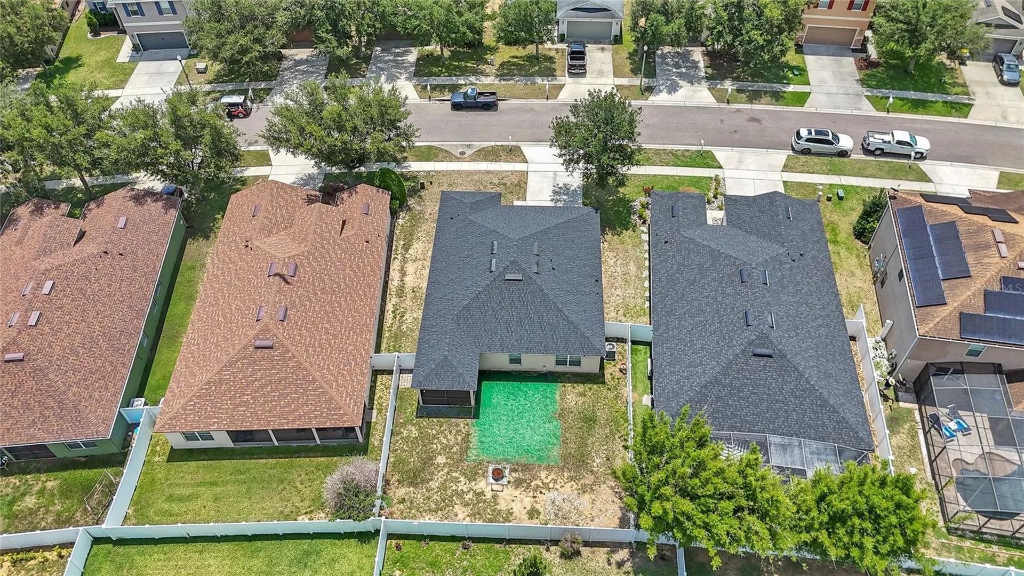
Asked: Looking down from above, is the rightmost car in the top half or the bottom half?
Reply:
top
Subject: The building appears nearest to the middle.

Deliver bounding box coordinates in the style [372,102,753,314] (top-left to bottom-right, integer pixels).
[410,190,607,417]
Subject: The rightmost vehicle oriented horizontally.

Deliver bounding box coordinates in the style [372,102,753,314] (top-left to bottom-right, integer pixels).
[867,133,935,161]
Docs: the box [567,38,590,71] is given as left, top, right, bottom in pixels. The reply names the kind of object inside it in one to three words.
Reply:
truck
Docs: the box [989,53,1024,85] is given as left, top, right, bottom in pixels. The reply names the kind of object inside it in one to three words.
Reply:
car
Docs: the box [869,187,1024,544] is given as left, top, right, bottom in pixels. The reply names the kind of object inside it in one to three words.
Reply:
house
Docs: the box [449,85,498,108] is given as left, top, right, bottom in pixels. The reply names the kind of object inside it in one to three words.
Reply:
truck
